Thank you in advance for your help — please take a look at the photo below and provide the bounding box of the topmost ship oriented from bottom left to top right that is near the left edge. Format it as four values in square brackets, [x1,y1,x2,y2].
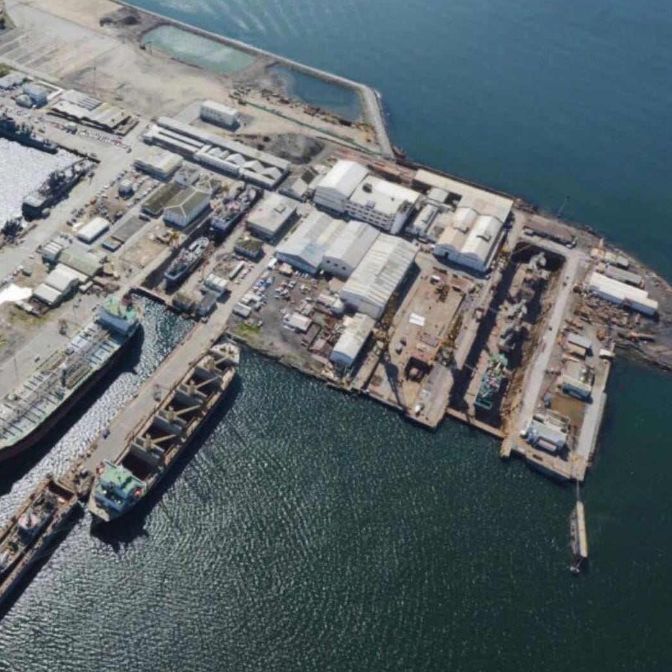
[19,157,96,220]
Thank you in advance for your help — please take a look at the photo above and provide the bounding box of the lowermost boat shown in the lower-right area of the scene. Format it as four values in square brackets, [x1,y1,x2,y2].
[566,556,581,572]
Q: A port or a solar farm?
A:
port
